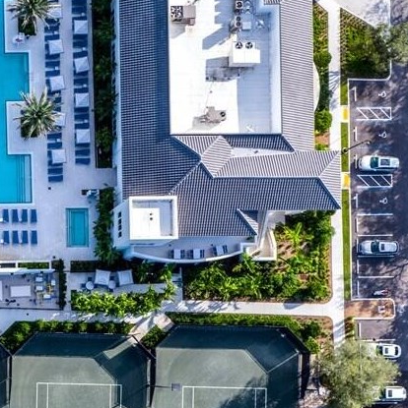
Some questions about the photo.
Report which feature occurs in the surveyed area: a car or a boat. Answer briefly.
car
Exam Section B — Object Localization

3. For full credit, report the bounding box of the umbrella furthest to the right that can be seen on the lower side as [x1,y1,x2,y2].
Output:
[115,270,132,286]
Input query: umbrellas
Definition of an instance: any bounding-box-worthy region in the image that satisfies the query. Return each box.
[75,94,90,109]
[73,20,89,36]
[47,39,64,55]
[51,149,66,165]
[48,76,65,92]
[94,269,110,286]
[74,57,91,75]
[115,270,132,286]
[76,129,91,144]
[47,4,62,19]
